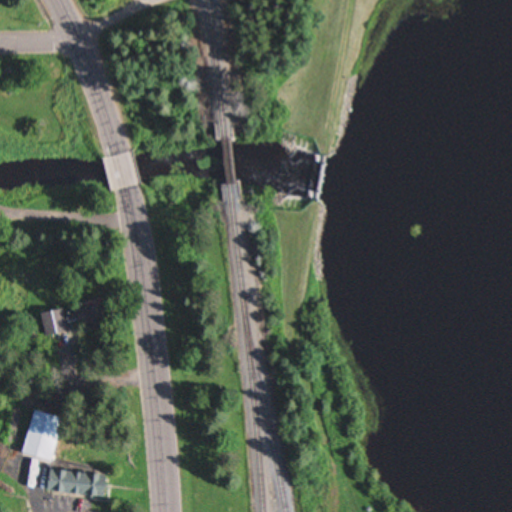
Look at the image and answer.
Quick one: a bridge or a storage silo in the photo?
bridge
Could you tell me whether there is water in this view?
Yes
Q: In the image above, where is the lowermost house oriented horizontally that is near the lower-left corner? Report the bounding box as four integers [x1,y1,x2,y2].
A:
[46,467,110,498]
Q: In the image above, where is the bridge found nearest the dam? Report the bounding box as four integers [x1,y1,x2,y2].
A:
[212,119,244,206]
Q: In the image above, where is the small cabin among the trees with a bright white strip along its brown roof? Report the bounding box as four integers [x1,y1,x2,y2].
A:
[40,310,64,336]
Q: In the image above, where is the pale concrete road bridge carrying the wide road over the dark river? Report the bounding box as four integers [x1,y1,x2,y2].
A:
[103,151,138,191]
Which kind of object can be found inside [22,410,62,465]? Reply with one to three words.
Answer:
barn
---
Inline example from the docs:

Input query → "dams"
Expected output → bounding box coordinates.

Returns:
[290,144,326,206]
